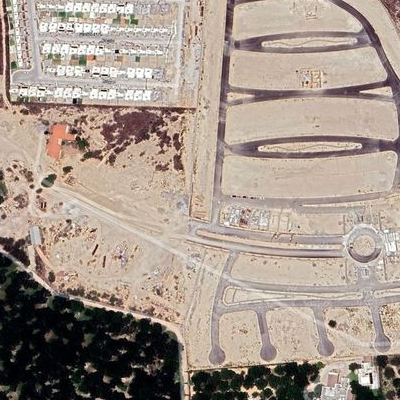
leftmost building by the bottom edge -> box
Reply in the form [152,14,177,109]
[320,373,353,400]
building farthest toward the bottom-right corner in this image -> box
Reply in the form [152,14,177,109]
[359,358,378,389]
